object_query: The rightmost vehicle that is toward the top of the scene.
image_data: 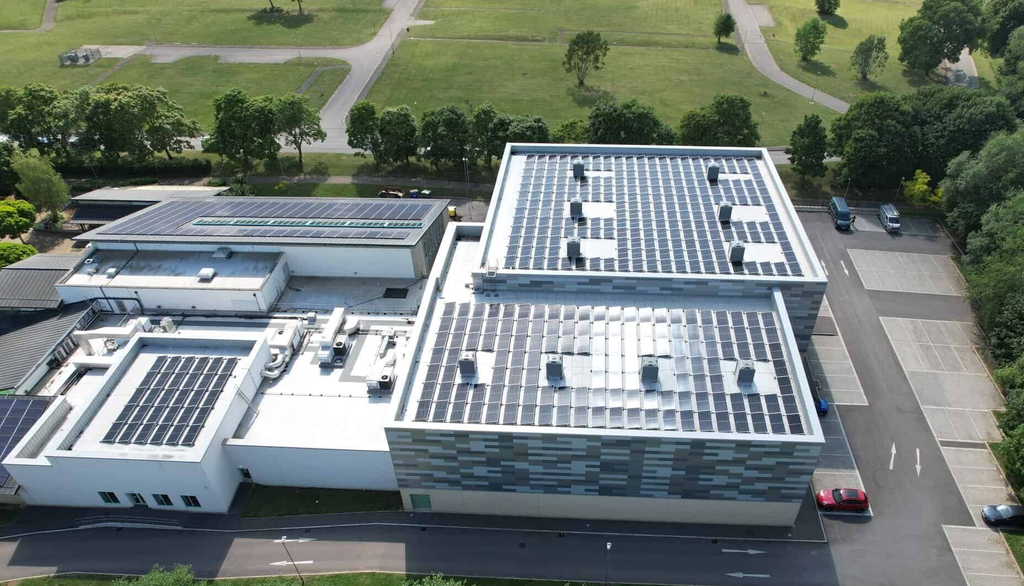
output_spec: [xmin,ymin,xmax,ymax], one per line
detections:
[876,207,903,235]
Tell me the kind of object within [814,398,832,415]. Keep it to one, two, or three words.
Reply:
car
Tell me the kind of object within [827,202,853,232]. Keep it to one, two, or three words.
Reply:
vehicle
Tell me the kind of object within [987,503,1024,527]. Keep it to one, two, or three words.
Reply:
car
